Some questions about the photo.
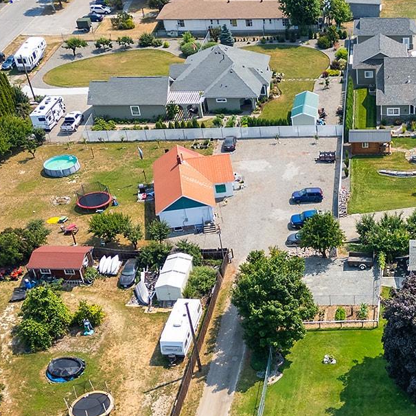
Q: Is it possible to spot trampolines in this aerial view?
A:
Yes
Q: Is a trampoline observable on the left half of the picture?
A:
Yes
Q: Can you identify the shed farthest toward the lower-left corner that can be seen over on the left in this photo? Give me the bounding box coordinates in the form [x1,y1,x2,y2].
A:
[27,243,95,283]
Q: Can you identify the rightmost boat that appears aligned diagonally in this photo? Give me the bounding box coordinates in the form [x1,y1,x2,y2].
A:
[134,285,155,304]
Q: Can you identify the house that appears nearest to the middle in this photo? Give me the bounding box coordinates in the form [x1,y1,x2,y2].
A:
[153,147,235,238]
